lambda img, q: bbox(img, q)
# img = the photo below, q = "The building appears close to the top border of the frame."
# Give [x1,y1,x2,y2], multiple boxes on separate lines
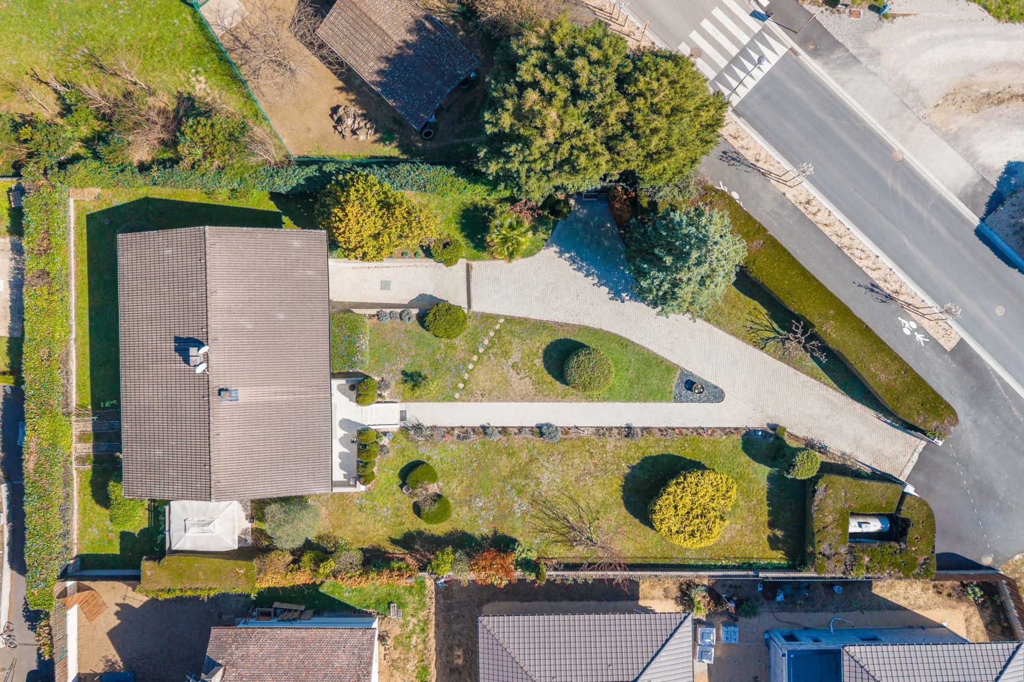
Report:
[315,0,482,132]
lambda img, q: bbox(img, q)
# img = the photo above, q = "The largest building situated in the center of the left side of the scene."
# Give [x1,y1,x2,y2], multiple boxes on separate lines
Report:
[116,226,334,502]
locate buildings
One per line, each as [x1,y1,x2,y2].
[475,602,695,682]
[201,616,380,682]
[768,628,1024,682]
[315,0,482,132]
[116,226,334,502]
